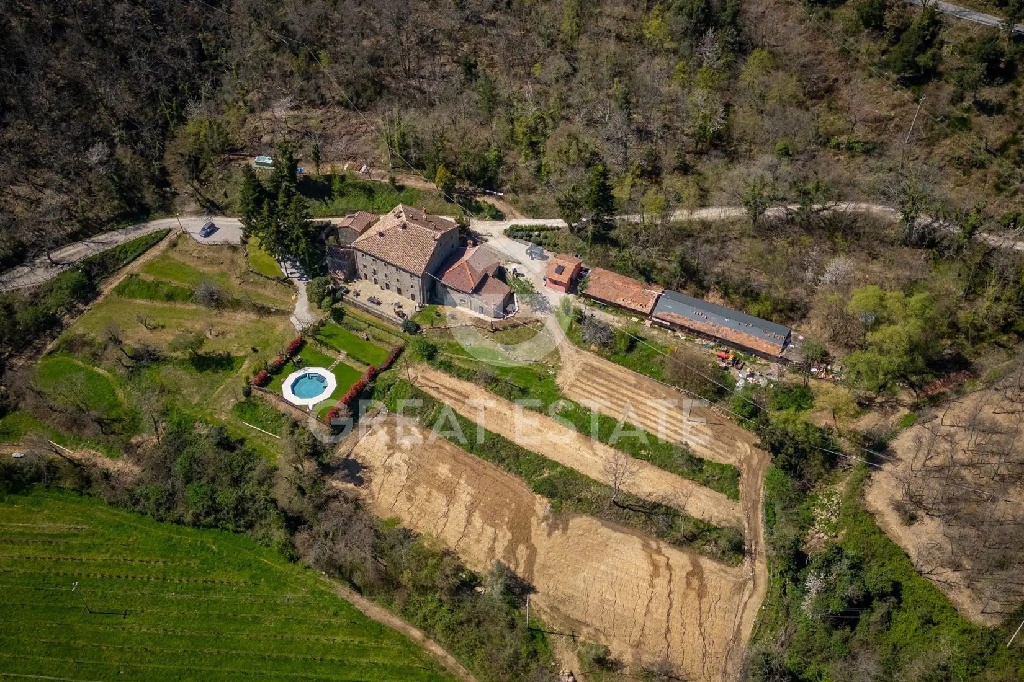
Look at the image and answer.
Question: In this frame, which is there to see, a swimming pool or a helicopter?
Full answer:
The one in the frame is a swimming pool.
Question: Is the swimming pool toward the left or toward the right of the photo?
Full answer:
The swimming pool sits on the left side.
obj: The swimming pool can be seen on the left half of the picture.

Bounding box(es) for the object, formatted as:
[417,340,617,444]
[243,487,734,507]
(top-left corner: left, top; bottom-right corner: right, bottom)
[281,367,337,405]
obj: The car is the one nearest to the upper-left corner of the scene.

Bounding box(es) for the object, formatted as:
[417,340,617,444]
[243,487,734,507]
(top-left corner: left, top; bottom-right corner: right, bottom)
[200,222,216,235]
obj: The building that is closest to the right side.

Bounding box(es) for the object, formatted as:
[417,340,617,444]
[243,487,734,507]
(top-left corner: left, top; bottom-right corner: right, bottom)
[650,289,791,367]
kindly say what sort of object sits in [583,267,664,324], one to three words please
barn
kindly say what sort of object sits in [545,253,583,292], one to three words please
building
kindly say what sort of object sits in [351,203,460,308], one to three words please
house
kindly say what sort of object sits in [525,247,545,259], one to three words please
vehicle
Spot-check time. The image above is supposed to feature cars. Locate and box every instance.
[200,222,216,235]
[525,247,545,259]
